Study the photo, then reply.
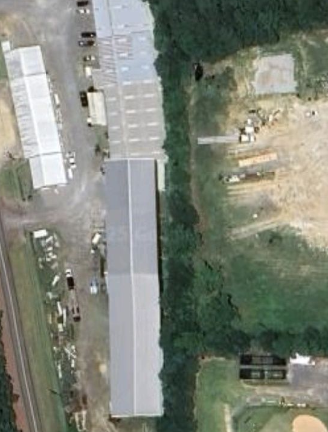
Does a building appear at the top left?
Yes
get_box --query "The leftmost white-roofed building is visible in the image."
[1,41,68,190]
